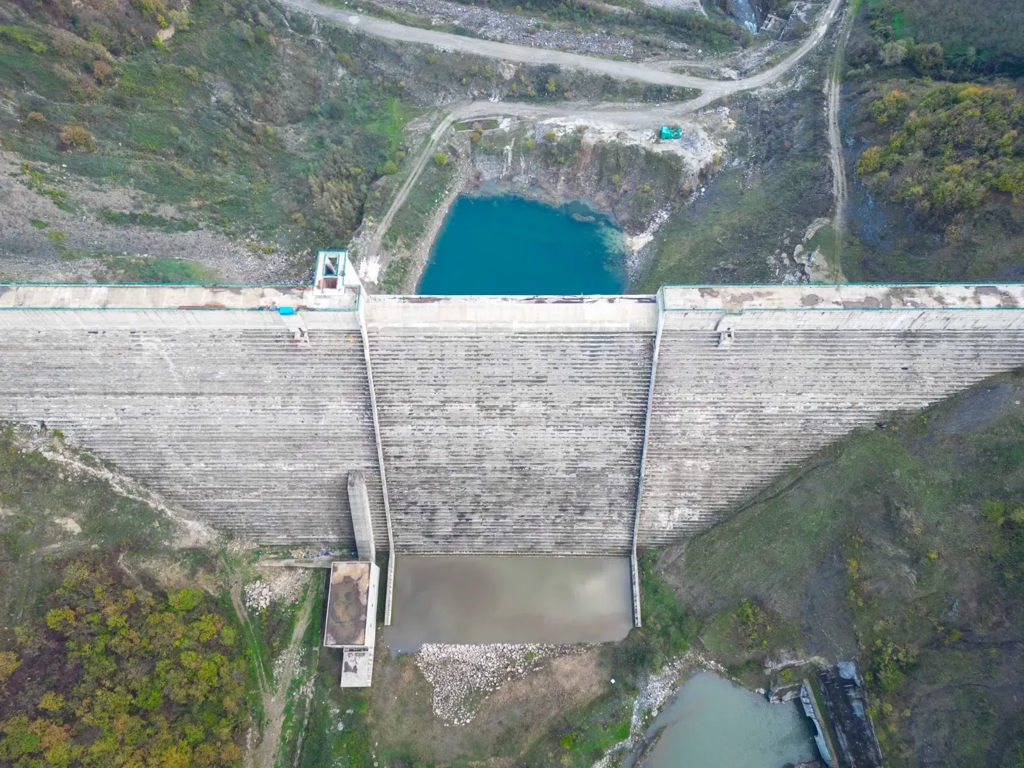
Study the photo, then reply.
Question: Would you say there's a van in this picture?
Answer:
No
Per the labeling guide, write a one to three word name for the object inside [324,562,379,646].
building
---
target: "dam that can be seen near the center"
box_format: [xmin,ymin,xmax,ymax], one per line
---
[0,284,1024,560]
